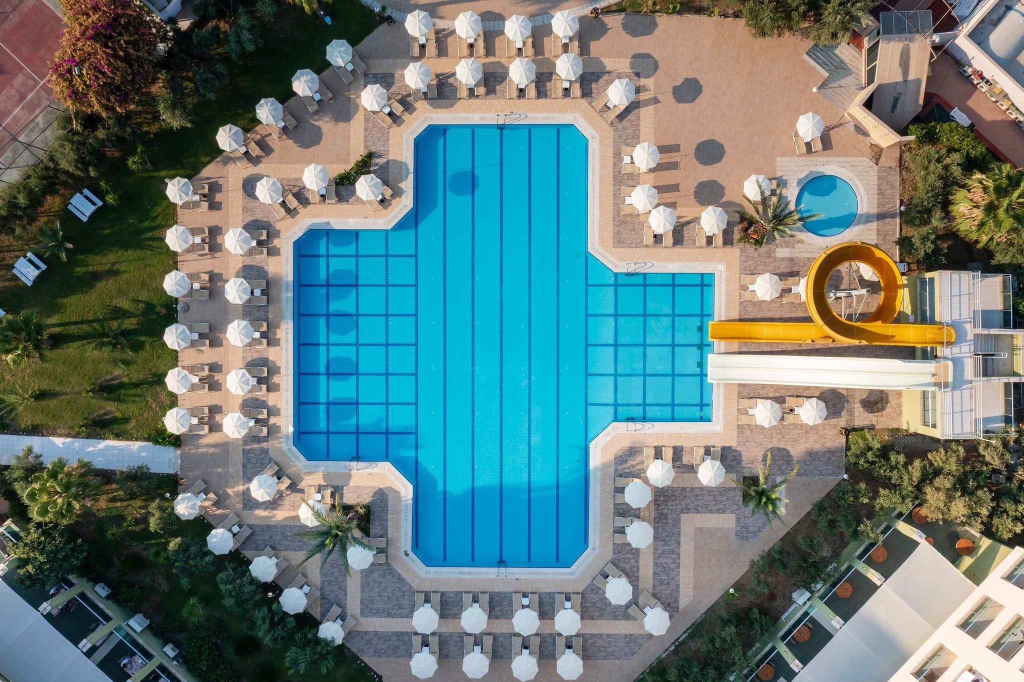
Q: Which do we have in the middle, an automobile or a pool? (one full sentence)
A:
Looking in the middle, you will find a pool.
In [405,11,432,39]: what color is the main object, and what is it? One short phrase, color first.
white umbrella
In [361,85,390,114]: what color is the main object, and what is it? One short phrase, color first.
white umbrella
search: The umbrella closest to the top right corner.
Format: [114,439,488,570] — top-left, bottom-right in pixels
[791,113,821,142]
